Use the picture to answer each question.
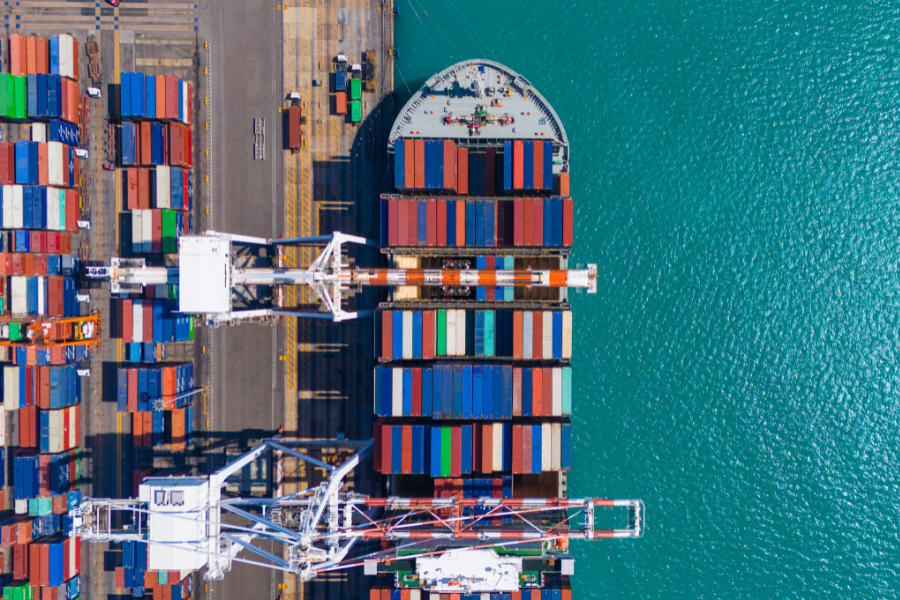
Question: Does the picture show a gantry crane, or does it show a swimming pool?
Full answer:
Looking from above, you can make out a gantry crane.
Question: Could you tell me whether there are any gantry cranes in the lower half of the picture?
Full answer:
Yes, there is a gantry crane in the lower half of the picture.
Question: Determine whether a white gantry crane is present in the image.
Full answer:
Yes, there's a white gantry crane down there.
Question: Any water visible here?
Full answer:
Yes, water can be seen from above here.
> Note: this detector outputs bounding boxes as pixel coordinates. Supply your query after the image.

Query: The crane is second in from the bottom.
[0,309,99,352]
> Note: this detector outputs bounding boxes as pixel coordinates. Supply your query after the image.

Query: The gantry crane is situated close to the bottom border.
[70,418,647,583]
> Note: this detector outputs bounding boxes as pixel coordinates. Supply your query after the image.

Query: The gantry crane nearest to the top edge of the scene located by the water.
[83,232,598,330]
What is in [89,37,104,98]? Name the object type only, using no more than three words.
vehicle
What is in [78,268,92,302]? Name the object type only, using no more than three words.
vehicle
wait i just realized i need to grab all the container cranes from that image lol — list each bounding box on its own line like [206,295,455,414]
[0,309,99,352]
[83,232,598,330]
[70,418,647,583]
